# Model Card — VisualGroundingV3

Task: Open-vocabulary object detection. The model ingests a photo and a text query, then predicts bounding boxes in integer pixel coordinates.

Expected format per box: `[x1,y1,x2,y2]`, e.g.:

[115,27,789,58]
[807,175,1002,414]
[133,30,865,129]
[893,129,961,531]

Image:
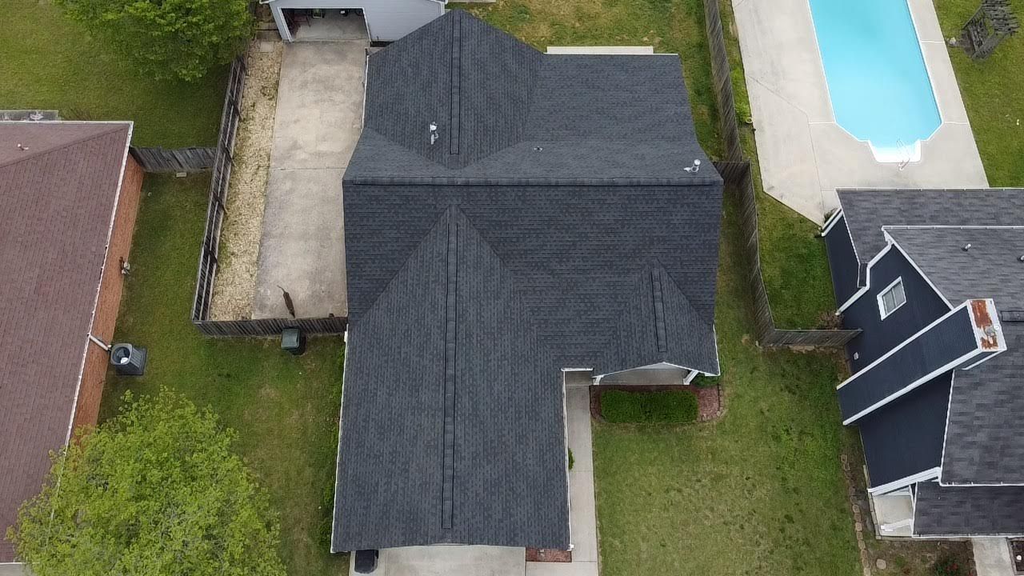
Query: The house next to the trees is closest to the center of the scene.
[331,11,722,554]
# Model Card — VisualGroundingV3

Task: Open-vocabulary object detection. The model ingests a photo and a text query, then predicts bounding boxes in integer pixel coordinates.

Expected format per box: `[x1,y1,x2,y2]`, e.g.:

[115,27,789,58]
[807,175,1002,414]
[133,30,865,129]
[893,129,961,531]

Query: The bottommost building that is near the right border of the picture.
[822,186,1024,539]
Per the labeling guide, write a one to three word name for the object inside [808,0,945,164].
swimming pool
